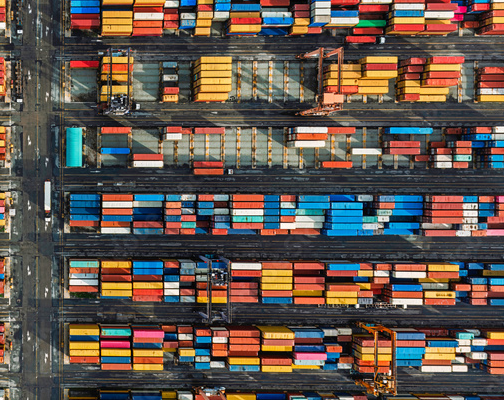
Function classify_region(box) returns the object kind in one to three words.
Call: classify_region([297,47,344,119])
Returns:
container crane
